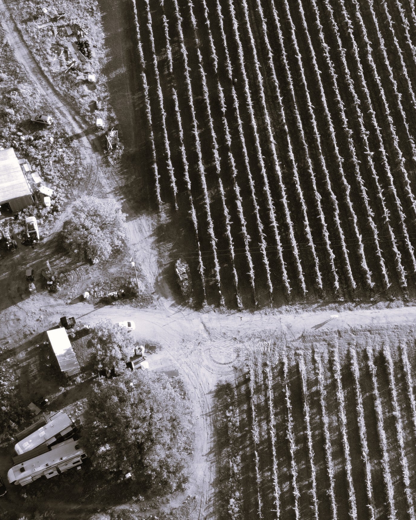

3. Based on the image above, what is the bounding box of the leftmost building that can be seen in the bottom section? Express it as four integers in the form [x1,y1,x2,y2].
[47,327,86,385]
